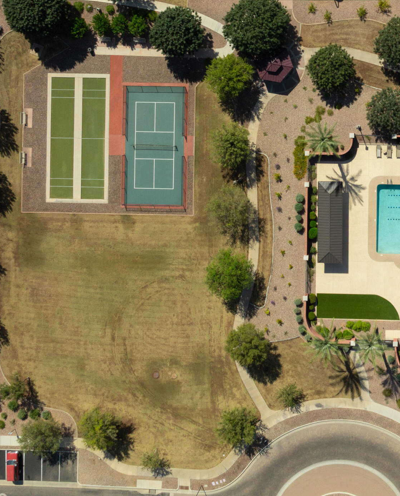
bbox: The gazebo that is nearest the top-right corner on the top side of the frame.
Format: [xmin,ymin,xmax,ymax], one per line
[254,44,305,96]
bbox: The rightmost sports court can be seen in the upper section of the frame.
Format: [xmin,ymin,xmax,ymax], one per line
[109,56,194,210]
